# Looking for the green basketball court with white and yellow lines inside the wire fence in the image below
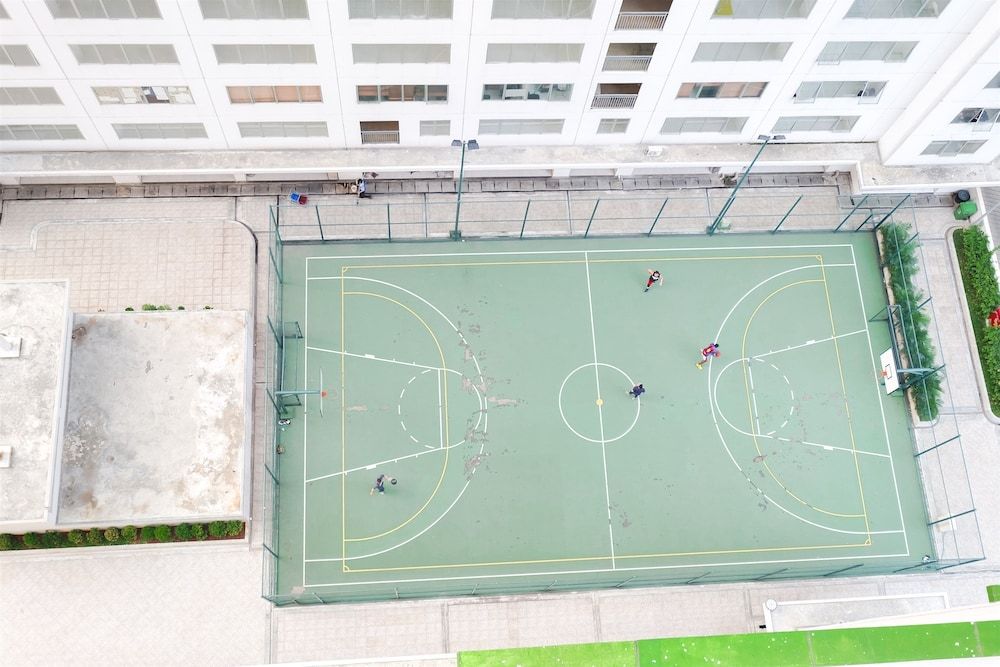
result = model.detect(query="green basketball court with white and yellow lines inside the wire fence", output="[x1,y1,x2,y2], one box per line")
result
[277,233,938,606]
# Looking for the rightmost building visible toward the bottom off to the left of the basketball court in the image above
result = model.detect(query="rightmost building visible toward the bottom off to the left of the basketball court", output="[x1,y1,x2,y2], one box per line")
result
[58,309,256,527]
